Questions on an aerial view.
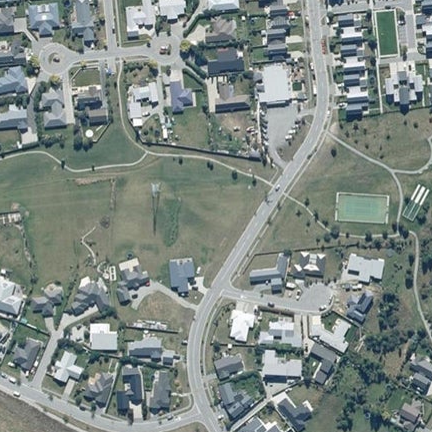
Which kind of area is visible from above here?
residential area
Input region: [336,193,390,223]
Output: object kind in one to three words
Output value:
sports court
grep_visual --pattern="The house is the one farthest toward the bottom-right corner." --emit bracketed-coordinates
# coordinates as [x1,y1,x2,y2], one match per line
[400,400,424,431]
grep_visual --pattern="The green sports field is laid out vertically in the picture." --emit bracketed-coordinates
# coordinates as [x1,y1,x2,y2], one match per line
[377,9,399,58]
